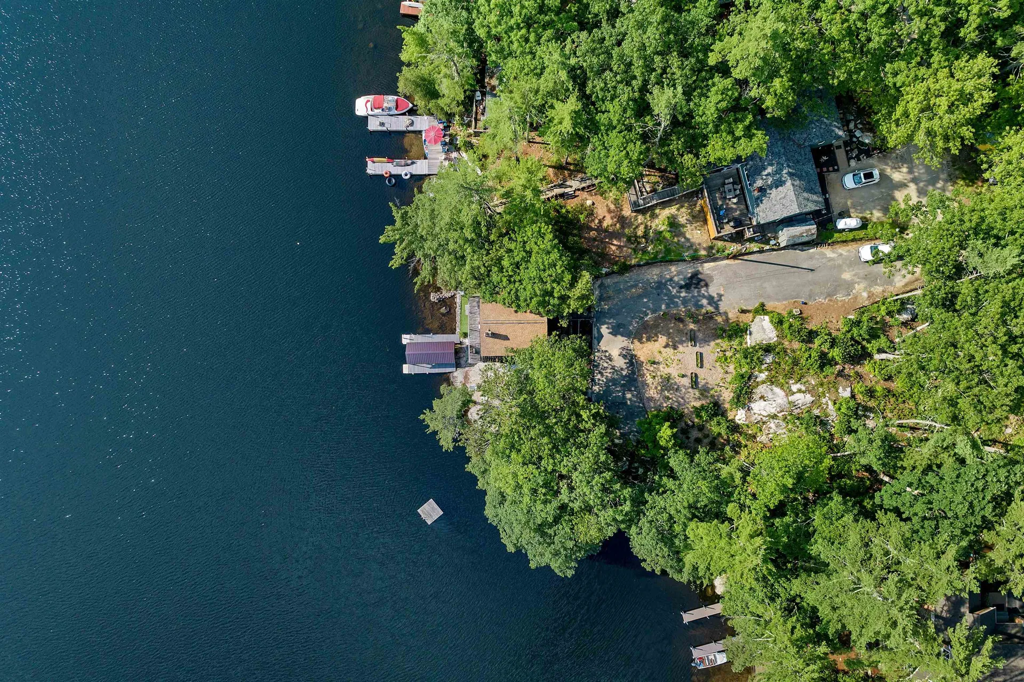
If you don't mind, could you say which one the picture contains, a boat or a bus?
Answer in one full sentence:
There is a boat in the scene.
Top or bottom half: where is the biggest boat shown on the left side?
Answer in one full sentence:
Seen from above, the biggest boat shown on the left side lies in the top half of the view.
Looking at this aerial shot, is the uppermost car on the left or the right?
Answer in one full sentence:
The uppermost car is on the right side of the image.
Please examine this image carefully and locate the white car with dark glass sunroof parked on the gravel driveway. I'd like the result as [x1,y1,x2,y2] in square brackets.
[843,166,885,190]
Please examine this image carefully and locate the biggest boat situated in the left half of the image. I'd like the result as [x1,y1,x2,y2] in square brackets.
[355,93,413,116]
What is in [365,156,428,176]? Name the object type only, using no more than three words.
pier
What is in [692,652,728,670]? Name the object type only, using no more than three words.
boat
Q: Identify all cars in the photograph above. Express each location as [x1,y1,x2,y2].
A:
[843,166,885,190]
[861,241,898,260]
